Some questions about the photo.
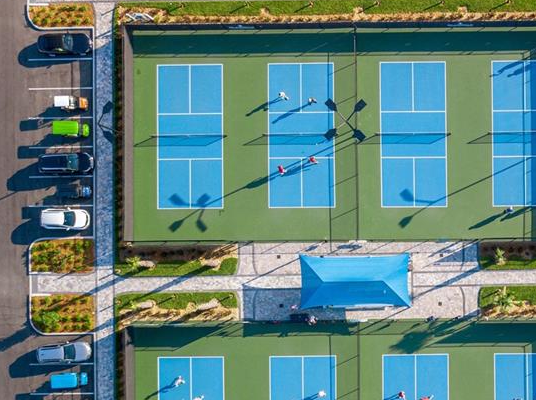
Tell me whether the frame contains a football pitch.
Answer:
No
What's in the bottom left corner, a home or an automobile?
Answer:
automobile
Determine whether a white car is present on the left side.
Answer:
Yes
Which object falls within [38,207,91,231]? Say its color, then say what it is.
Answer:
white car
